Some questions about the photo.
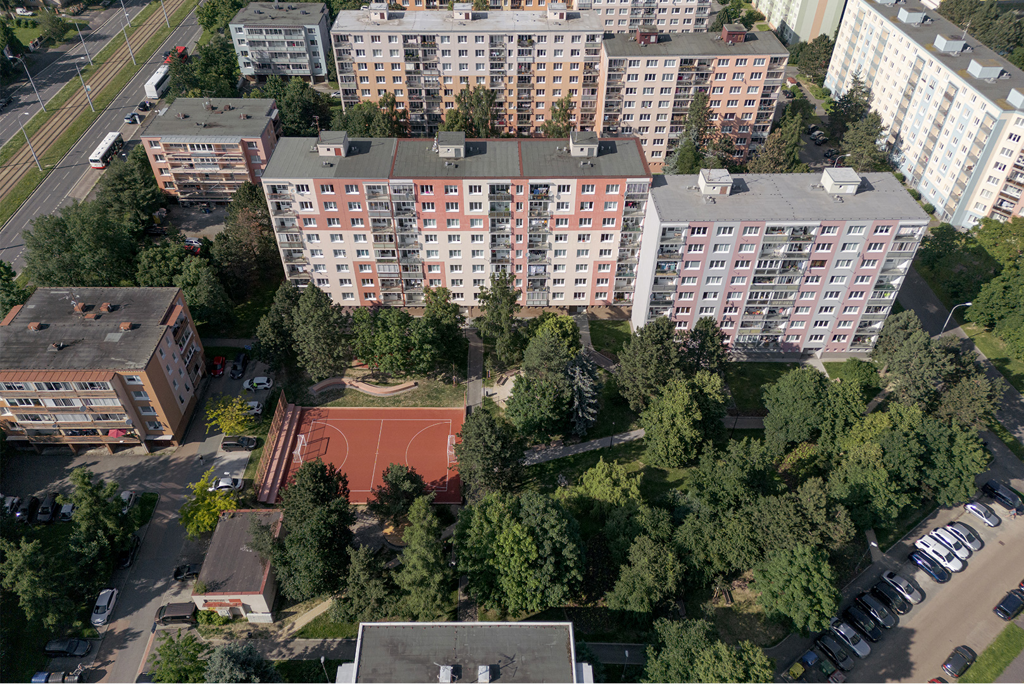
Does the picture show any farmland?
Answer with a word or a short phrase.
No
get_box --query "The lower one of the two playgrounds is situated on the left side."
[352,507,409,555]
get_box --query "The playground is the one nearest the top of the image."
[493,370,528,405]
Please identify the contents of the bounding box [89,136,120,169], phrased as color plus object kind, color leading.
white bus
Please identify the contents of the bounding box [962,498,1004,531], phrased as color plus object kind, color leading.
gray car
